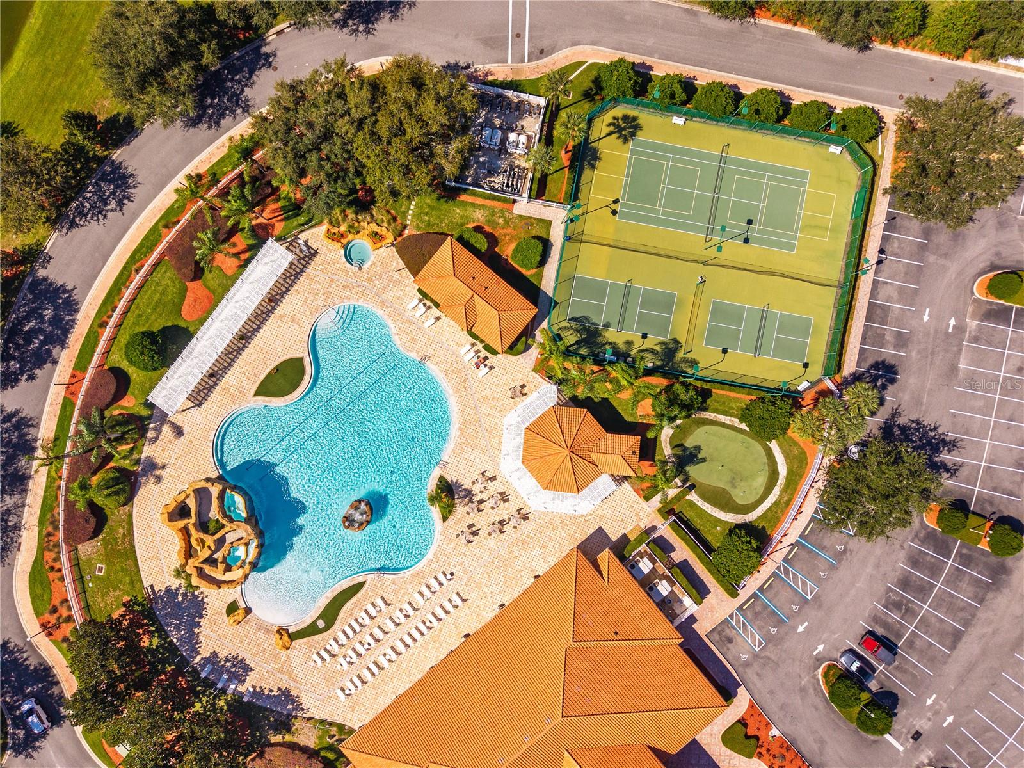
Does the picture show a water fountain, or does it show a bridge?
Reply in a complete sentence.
The image shows a water fountain.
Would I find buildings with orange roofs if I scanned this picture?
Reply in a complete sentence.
Yes, the image includes a building with an orange roof.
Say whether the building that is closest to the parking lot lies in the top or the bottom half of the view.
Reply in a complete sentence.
The bottom half of the photo is where the building that is closest to the parking lot is.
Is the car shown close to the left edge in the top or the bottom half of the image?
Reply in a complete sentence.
Seen from above, the car shown close to the left edge lies in the bottom half of the view.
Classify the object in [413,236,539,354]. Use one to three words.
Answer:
building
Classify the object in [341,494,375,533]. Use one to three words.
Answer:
fountain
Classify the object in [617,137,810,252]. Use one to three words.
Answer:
tennis court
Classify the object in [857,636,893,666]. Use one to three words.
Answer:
car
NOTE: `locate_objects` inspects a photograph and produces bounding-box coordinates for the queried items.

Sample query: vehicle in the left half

[23,697,50,734]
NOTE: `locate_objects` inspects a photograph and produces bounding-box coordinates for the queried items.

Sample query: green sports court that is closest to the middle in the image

[567,275,677,339]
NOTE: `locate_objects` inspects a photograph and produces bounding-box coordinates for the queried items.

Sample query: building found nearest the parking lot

[338,548,729,768]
